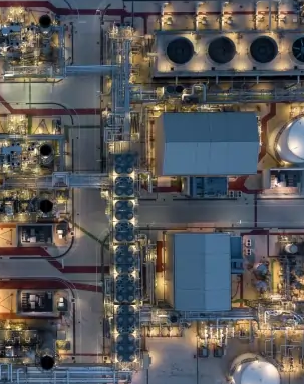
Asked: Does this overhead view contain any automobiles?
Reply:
No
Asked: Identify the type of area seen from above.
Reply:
industrial area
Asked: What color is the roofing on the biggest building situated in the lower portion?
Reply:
blue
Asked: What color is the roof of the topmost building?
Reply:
blue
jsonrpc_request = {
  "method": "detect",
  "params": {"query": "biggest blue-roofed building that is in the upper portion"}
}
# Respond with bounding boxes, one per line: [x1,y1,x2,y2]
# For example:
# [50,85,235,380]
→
[158,113,260,176]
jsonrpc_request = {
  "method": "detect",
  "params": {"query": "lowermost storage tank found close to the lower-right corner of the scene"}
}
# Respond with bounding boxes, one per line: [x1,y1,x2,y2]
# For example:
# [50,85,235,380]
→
[226,351,281,384]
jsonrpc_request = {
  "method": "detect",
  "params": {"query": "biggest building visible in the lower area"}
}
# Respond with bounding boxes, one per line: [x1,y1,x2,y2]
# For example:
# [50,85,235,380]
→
[168,233,230,313]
